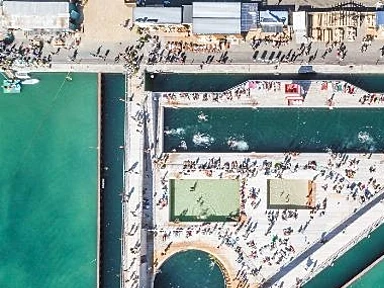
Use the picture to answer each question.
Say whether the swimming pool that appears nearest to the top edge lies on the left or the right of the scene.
right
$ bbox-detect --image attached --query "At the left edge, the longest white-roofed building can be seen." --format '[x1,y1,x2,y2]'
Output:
[1,1,76,32]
